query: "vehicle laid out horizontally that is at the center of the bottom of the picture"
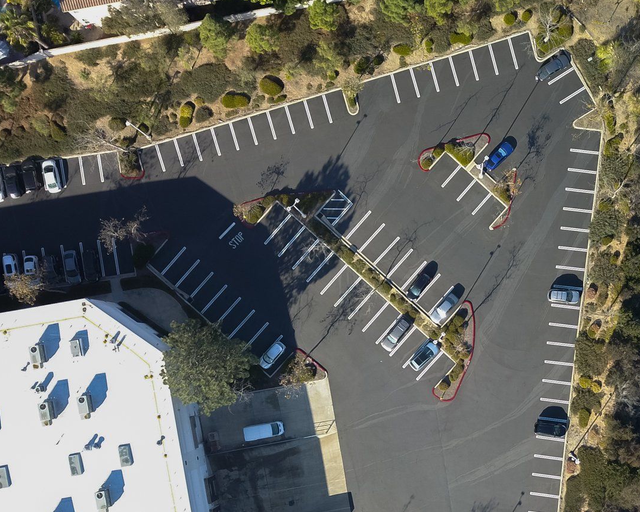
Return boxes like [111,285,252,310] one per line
[241,422,285,442]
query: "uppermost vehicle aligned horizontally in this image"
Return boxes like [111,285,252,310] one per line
[546,288,582,305]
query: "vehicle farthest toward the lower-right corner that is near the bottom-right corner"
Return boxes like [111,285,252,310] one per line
[533,421,569,437]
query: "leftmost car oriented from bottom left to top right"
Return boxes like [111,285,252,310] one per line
[259,337,288,369]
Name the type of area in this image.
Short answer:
parking lot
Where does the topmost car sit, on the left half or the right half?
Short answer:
right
